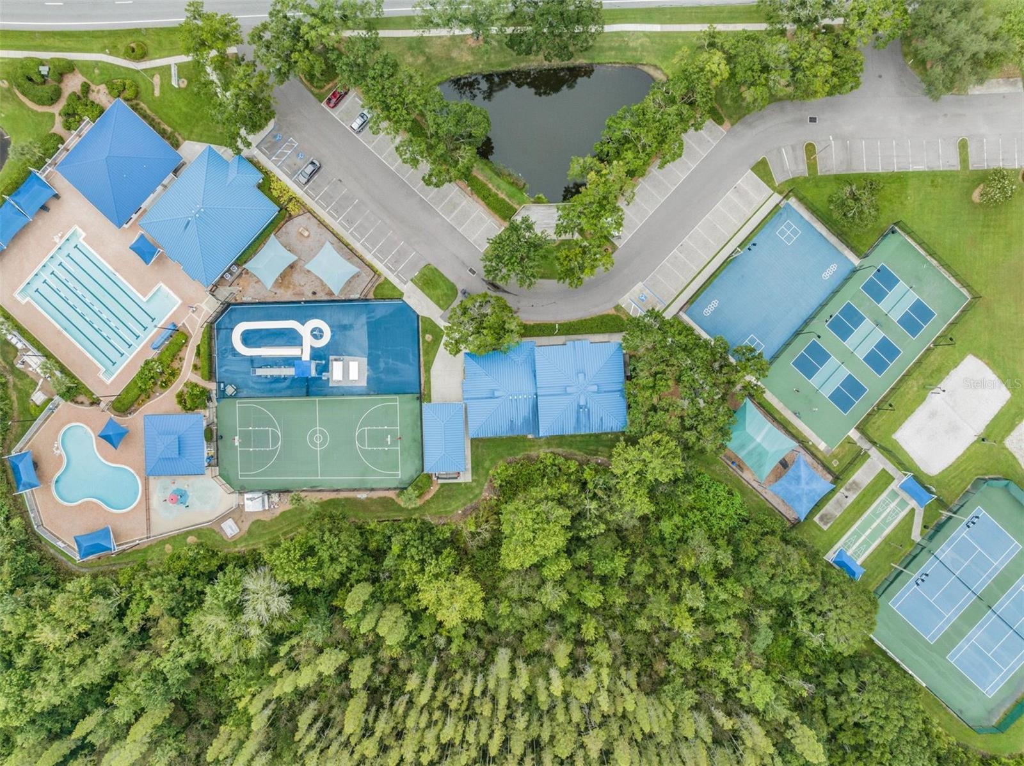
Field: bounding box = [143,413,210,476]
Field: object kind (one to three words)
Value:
building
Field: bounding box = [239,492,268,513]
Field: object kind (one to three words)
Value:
shed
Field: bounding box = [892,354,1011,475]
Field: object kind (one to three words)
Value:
sports court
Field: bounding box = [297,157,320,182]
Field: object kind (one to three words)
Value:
car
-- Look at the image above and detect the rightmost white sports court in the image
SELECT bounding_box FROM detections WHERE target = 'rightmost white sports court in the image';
[1004,421,1024,468]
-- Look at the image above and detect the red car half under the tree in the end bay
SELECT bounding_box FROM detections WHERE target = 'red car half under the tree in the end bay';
[324,85,347,110]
